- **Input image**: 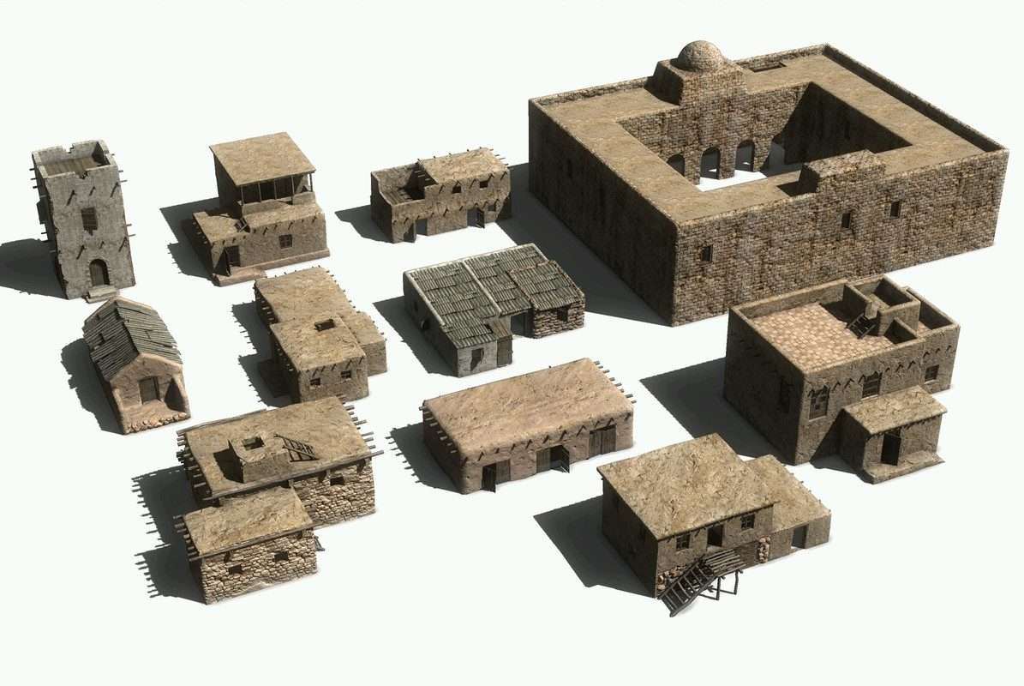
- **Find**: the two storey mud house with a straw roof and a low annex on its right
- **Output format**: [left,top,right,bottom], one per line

[598,434,832,597]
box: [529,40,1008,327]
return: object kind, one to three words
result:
building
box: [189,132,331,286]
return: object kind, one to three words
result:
house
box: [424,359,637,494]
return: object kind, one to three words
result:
barn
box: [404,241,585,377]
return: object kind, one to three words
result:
house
